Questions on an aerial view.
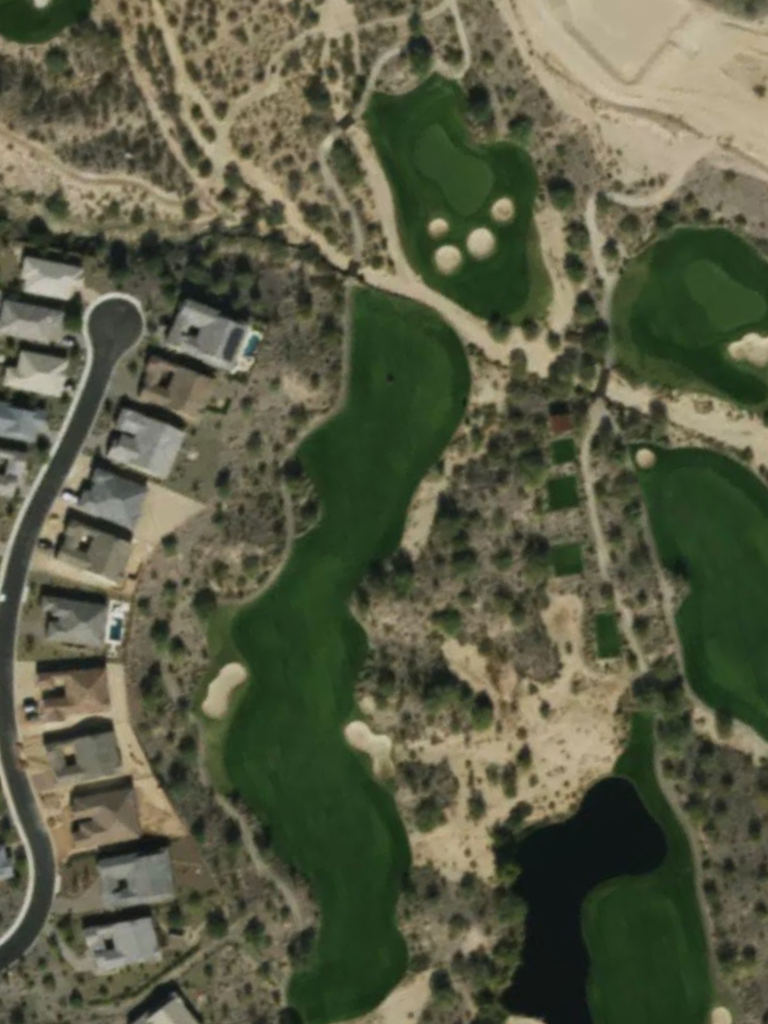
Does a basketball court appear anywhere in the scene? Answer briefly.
No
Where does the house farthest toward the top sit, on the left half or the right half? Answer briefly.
left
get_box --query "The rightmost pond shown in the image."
[501,779,665,1024]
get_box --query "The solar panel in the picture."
[221,326,245,363]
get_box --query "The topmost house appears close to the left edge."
[20,257,85,299]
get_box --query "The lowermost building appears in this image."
[132,994,195,1024]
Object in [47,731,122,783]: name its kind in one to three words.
house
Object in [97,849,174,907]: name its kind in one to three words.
house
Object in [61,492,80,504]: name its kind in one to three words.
vehicle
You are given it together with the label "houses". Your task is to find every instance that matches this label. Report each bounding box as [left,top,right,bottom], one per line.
[69,790,139,846]
[165,298,249,371]
[47,731,122,783]
[0,300,65,344]
[0,454,29,499]
[20,257,85,299]
[132,994,195,1024]
[40,597,108,643]
[105,409,187,481]
[85,918,160,974]
[0,400,51,444]
[56,519,132,580]
[4,352,69,396]
[136,355,206,415]
[97,849,174,907]
[37,671,111,717]
[78,467,149,530]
